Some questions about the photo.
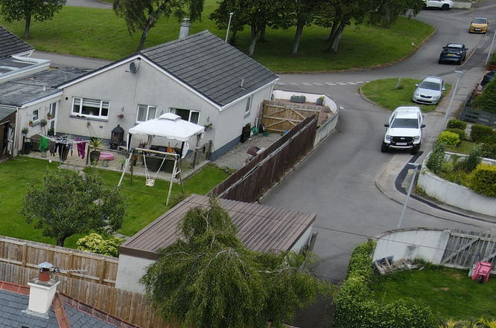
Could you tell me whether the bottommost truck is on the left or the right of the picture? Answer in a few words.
right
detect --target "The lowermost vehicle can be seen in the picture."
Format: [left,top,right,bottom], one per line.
[384,107,433,149]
